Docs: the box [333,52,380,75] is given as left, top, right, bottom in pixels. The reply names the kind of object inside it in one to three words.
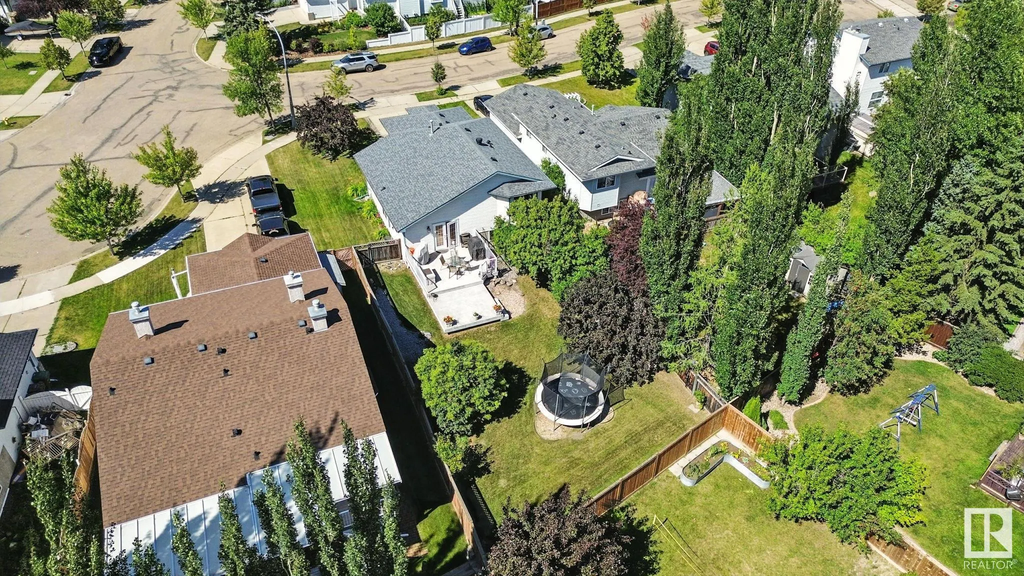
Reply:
car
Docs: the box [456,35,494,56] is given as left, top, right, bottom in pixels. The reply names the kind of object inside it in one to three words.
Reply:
car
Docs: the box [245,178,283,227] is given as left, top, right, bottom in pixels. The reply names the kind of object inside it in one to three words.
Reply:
truck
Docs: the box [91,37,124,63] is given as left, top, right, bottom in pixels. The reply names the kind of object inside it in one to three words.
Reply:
truck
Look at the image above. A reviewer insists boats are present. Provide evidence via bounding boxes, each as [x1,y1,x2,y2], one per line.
[0,16,68,39]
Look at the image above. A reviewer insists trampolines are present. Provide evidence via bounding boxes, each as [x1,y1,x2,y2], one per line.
[533,350,608,437]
